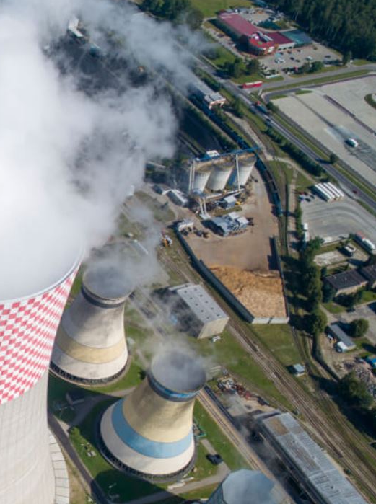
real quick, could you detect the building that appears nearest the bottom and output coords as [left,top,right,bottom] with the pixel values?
[248,409,365,504]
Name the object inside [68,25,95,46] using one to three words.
building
